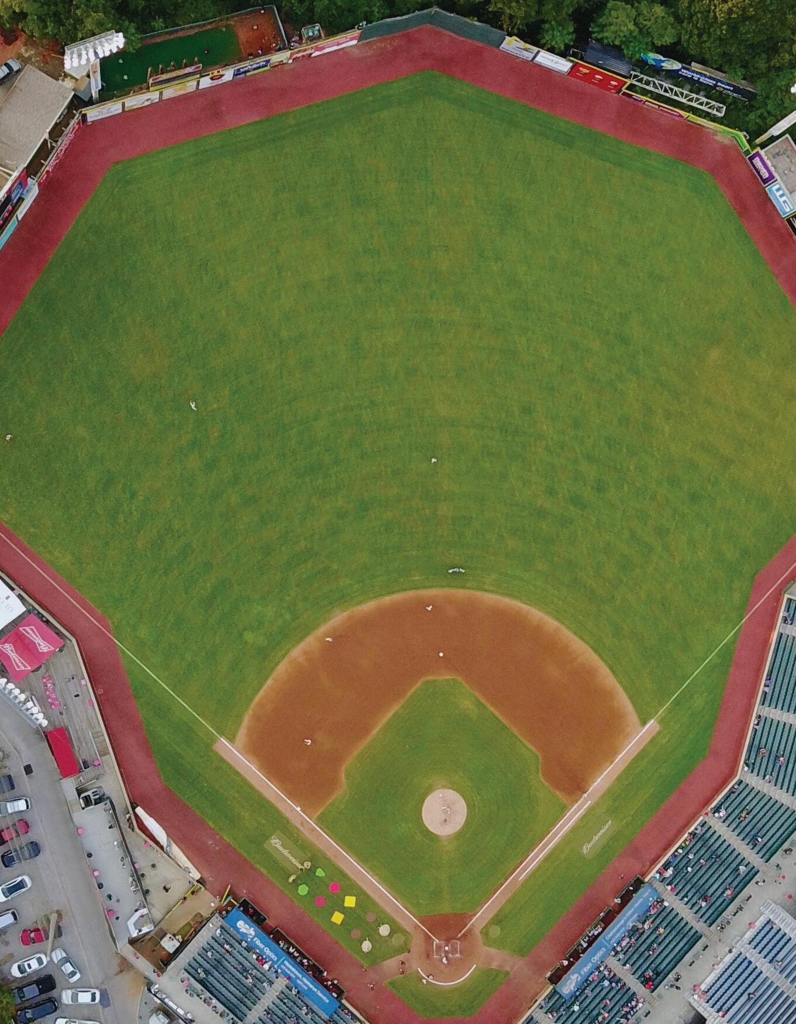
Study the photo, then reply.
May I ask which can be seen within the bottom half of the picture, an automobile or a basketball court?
automobile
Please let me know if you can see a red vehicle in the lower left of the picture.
Yes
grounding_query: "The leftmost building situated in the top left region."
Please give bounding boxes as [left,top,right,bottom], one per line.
[0,63,76,183]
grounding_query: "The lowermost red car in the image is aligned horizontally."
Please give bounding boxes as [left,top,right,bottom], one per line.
[15,924,56,946]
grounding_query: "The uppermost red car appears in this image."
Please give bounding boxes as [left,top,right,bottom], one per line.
[0,818,31,845]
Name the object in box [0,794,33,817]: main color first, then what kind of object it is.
white car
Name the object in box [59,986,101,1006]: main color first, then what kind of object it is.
white car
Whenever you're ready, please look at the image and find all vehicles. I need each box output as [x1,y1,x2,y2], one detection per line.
[56,1015,100,1024]
[10,970,60,1008]
[0,839,43,871]
[0,818,31,845]
[7,950,50,980]
[59,986,101,1006]
[0,773,18,793]
[0,794,33,817]
[15,992,61,1024]
[0,904,23,930]
[50,945,81,985]
[74,783,110,809]
[0,872,37,904]
[15,924,56,946]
